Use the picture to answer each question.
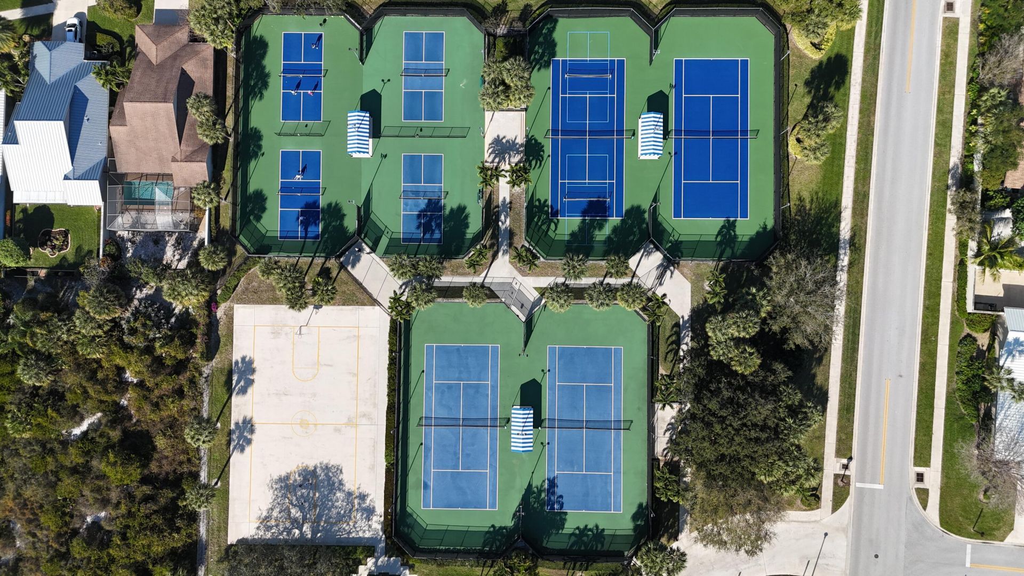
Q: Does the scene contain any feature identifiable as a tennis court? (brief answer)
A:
Yes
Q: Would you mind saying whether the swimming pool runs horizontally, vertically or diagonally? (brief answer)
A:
horizontally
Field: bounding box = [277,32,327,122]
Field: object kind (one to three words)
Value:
sports court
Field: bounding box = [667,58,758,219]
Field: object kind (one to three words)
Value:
tennis court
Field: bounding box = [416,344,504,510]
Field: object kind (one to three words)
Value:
tennis court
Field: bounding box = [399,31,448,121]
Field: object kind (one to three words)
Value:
sports court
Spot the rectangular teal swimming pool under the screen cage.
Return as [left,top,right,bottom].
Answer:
[123,181,176,207]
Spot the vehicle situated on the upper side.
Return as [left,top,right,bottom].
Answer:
[65,17,84,43]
